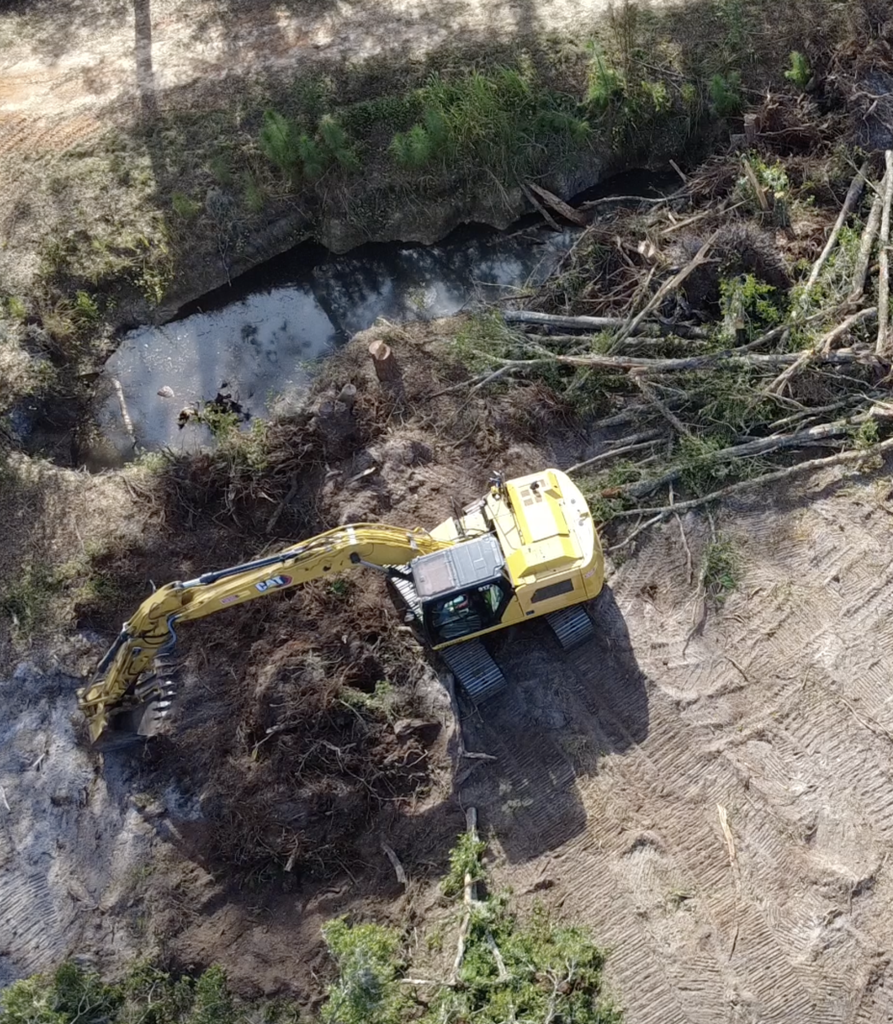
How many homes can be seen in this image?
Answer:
0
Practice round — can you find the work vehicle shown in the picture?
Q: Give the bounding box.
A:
[68,470,604,753]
